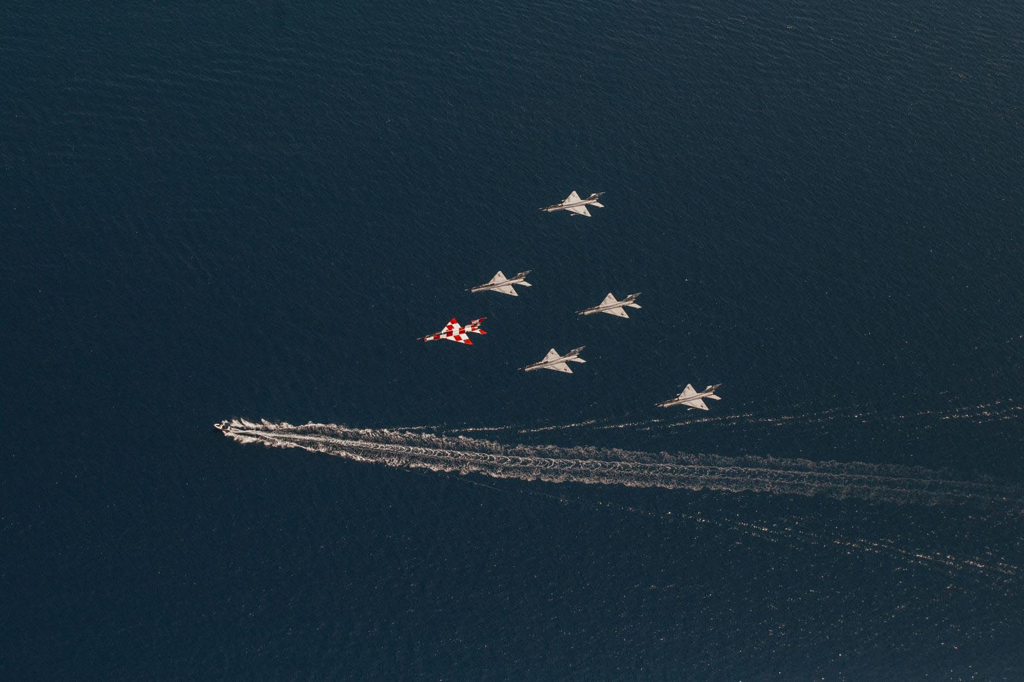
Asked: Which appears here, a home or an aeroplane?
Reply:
aeroplane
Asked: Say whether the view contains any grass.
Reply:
No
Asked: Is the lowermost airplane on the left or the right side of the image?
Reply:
right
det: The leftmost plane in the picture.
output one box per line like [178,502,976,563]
[419,318,486,344]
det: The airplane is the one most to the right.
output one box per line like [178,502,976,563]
[656,384,720,410]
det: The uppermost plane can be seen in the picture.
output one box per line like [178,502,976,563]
[540,191,605,217]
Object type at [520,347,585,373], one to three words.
airplane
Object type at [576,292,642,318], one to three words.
airplane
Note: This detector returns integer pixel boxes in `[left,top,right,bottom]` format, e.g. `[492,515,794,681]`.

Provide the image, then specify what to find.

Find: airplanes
[576,292,642,318]
[520,347,585,373]
[656,384,720,410]
[419,318,486,344]
[540,191,605,217]
[465,270,531,296]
